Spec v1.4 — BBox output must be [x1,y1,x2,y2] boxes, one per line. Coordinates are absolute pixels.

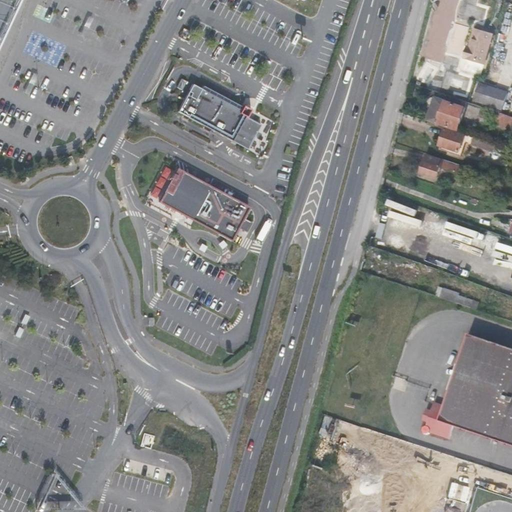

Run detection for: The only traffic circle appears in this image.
[0,175,112,270]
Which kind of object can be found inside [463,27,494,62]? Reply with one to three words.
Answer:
house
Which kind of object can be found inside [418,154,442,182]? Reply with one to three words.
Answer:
house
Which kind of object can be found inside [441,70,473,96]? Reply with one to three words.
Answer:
building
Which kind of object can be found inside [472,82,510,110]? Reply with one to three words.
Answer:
shed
